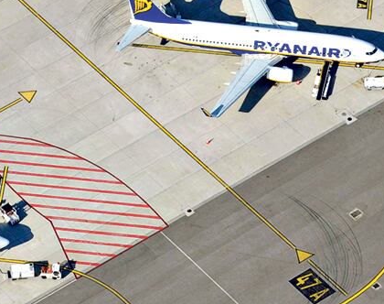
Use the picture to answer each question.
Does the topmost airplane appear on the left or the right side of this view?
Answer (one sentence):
You can find the topmost airplane on the right side of the picture.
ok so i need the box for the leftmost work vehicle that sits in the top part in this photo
[314,60,334,95]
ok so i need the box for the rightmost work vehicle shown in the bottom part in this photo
[41,264,61,282]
